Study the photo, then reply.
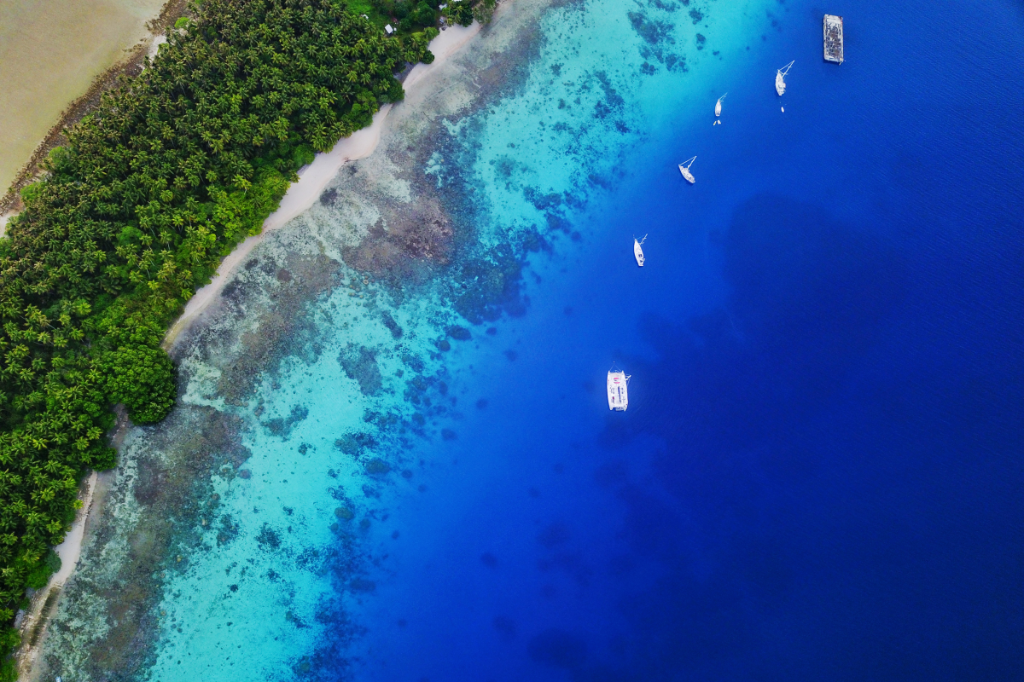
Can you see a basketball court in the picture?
No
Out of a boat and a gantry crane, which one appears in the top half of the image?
boat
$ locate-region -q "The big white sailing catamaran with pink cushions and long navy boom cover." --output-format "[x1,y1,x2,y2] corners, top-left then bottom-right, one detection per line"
[607,371,630,412]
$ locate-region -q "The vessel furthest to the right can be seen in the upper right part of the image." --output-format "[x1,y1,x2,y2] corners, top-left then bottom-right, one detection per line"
[823,13,844,64]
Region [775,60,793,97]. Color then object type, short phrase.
white boat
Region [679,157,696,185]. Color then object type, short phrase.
white boat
